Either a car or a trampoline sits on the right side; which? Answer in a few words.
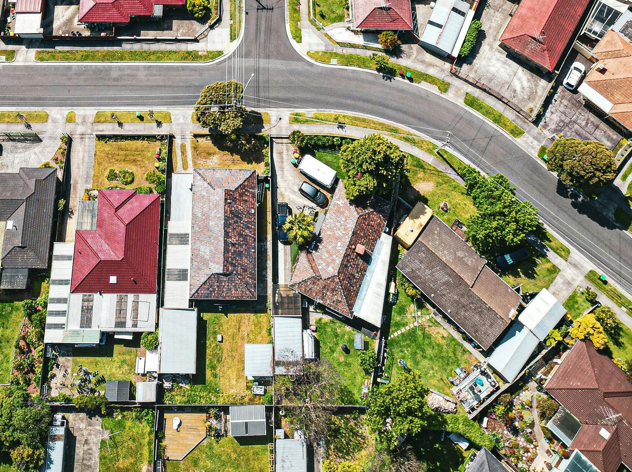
car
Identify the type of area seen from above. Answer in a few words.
residential area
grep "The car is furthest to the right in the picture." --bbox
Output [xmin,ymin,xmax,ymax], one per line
[563,61,586,92]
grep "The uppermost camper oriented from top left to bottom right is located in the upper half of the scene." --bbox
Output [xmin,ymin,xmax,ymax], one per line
[299,155,338,187]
